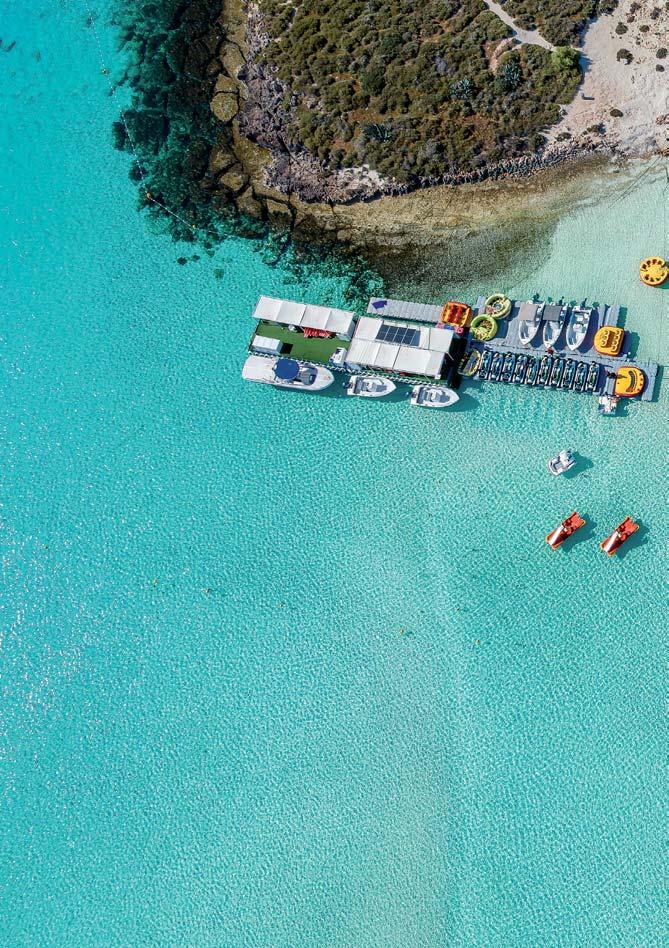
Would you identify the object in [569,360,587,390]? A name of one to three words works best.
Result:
boat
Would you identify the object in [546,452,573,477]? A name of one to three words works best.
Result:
boat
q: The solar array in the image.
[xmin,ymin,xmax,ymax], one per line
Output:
[378,325,420,346]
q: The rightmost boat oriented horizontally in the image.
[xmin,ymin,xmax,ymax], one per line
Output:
[407,383,460,407]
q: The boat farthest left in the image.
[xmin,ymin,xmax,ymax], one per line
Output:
[241,354,334,388]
